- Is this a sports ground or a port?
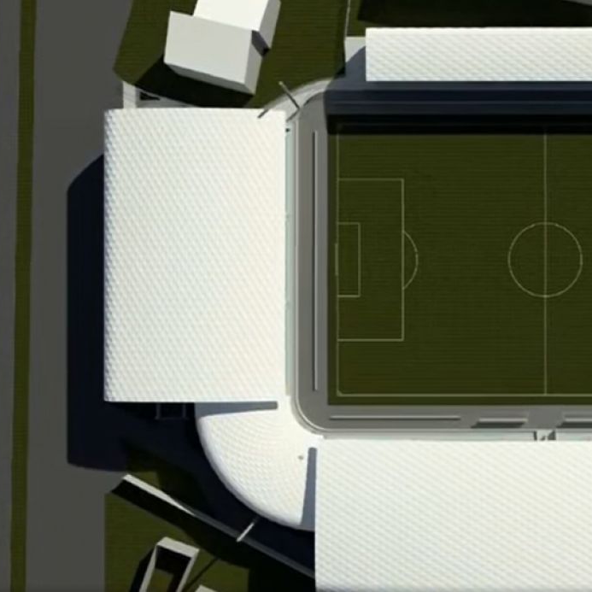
sports ground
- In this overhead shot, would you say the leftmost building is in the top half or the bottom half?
bottom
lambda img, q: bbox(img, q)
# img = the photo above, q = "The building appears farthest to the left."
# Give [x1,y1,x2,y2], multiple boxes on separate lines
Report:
[140,536,200,592]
